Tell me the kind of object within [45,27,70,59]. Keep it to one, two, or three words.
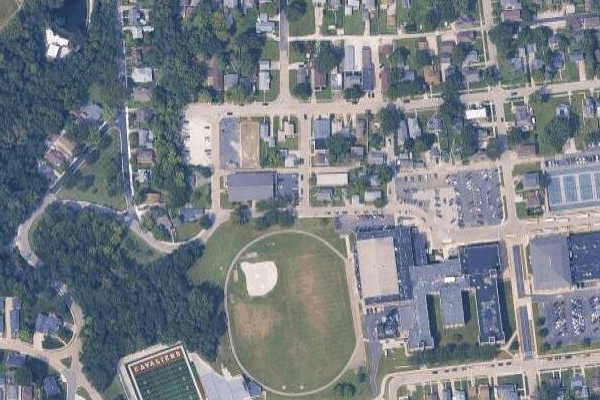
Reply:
building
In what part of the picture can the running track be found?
bottom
